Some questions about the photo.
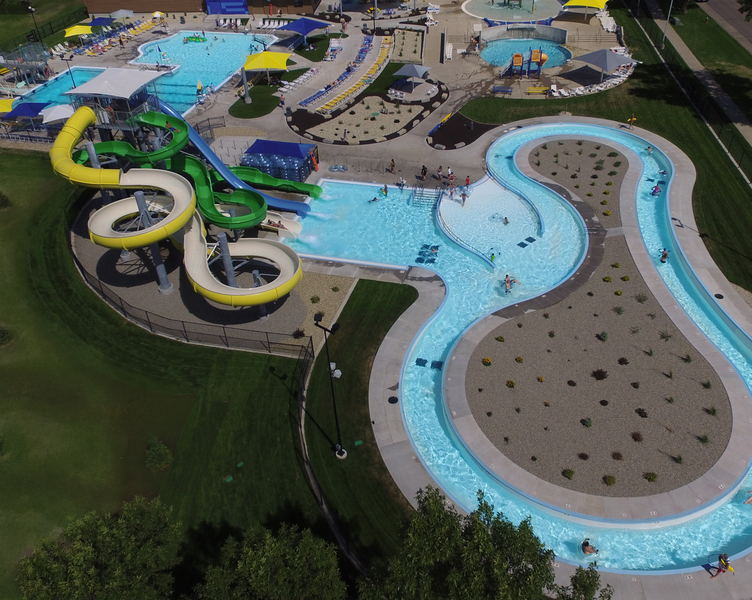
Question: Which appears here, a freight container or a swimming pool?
swimming pool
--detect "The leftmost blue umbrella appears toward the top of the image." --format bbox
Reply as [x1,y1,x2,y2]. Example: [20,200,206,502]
[1,103,53,129]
